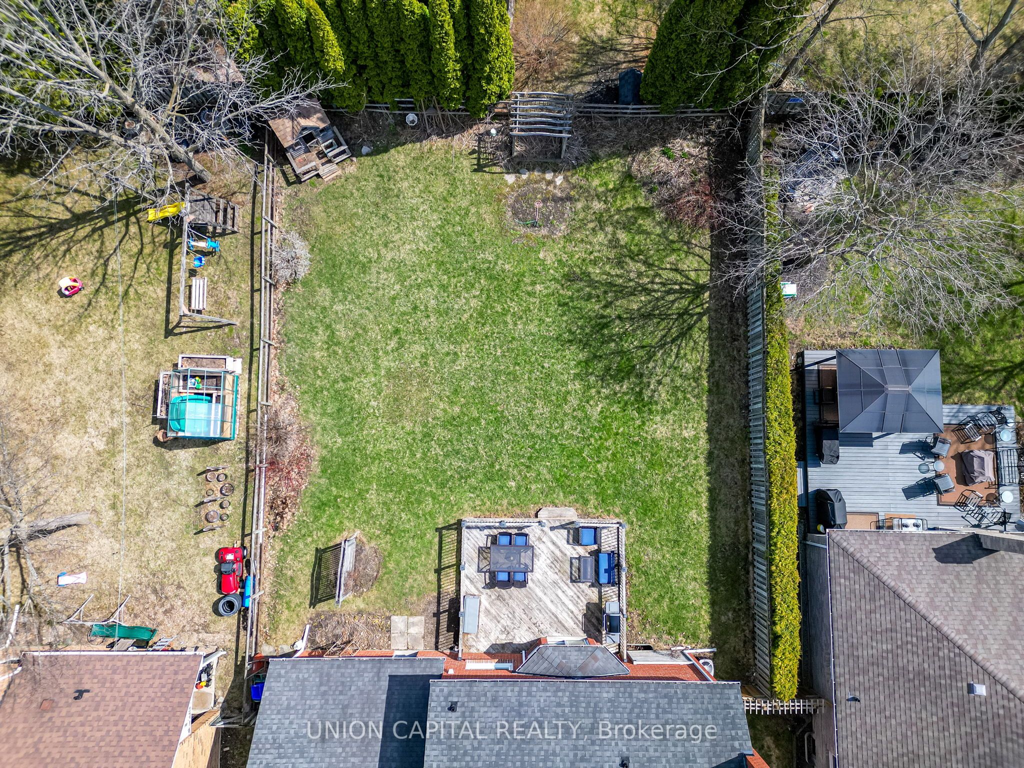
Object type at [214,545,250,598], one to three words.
work vehicle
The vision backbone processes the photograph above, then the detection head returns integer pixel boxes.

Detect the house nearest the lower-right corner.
[796,527,1024,768]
